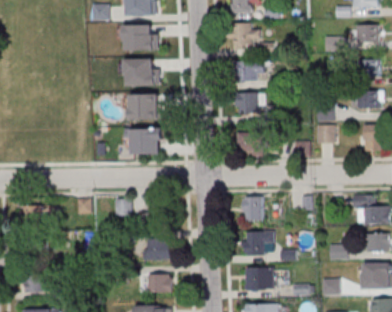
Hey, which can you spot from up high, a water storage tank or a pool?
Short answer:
pool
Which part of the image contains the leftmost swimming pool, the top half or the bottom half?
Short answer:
top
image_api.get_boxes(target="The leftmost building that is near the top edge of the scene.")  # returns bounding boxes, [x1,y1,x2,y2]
[90,2,110,22]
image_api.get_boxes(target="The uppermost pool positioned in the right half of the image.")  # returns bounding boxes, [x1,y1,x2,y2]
[298,233,314,250]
